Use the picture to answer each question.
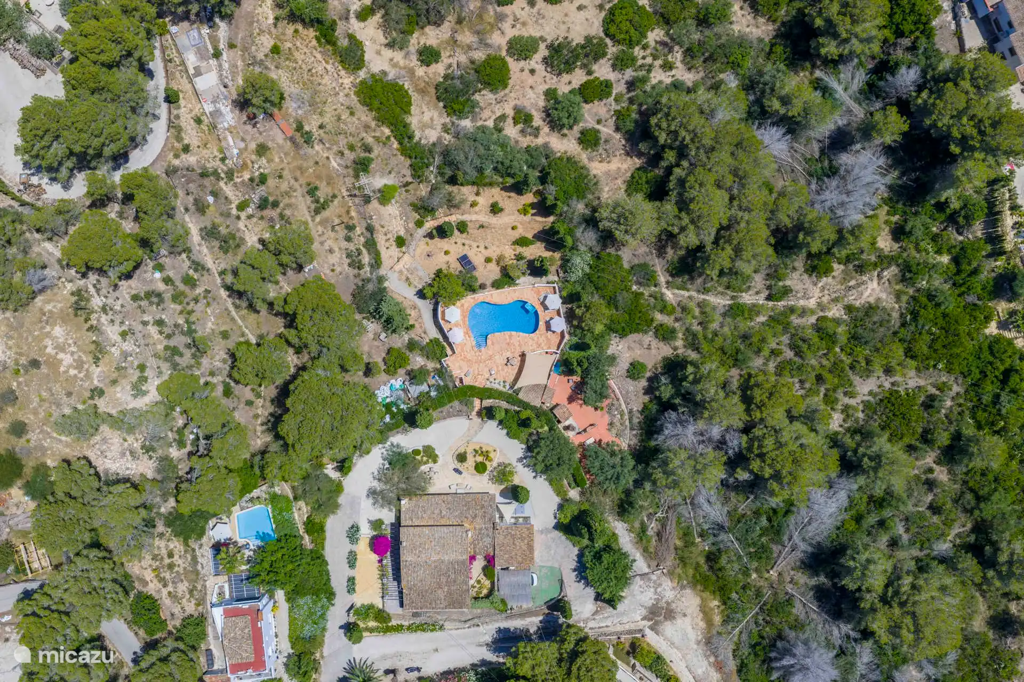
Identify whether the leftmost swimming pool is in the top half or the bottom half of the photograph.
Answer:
bottom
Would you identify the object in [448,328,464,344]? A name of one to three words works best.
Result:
umbrella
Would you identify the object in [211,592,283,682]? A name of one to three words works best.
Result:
house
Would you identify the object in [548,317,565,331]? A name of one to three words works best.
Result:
umbrella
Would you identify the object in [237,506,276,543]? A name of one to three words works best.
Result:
swimming pool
